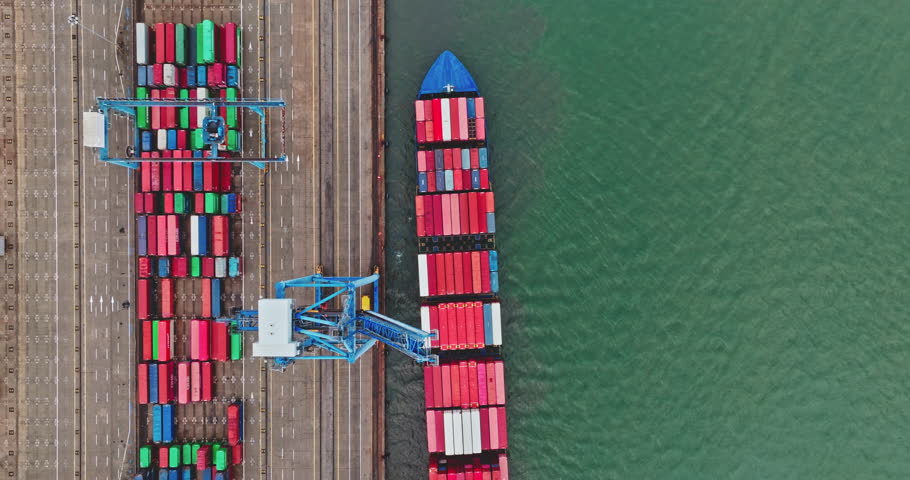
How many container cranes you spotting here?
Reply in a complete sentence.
I count 2 container cranes.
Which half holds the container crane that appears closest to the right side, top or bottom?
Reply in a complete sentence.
You can find the container crane that appears closest to the right side in the bottom half.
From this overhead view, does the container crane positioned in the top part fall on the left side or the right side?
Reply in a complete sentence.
It is on the left.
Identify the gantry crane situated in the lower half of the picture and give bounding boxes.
[215,262,443,369]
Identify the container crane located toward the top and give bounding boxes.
[81,99,289,179]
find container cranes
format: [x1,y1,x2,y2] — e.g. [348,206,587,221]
[81,99,289,179]
[215,262,443,369]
